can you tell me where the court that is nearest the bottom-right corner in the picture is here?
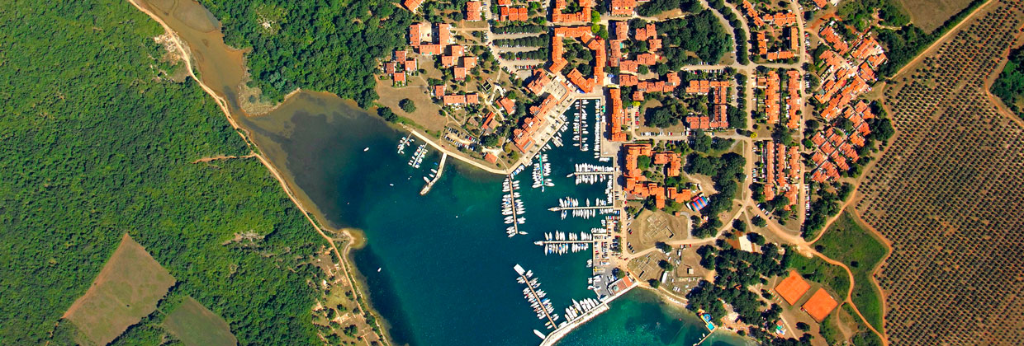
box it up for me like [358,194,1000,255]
[801,287,838,324]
